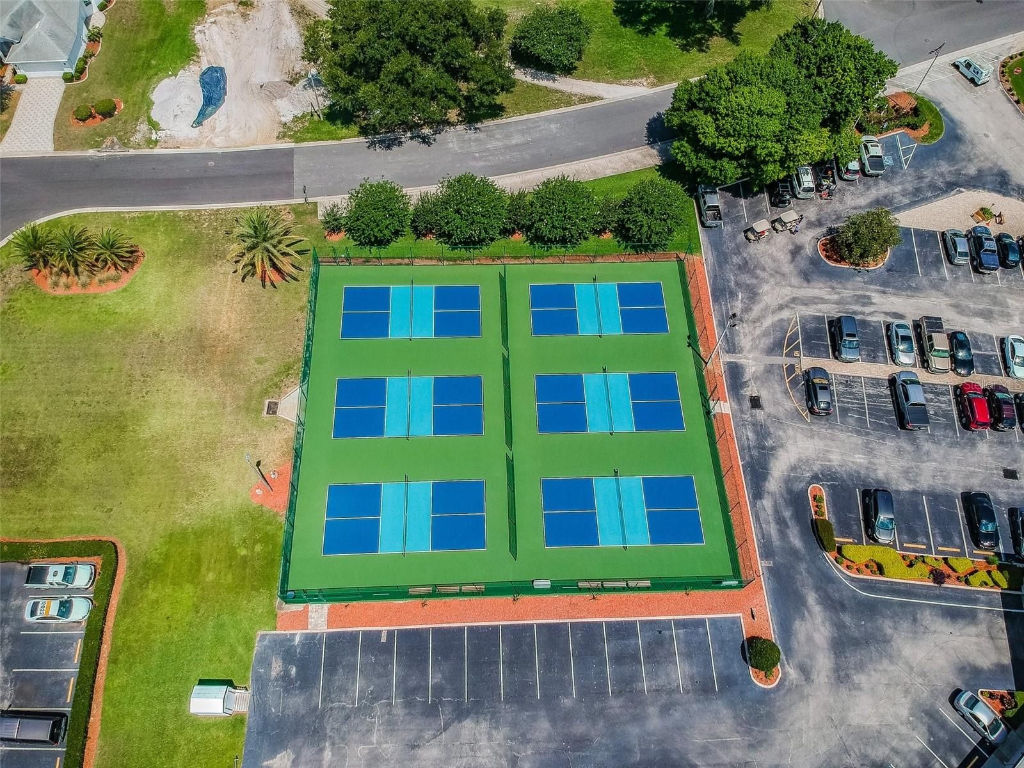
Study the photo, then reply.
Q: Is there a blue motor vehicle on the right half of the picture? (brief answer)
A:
Yes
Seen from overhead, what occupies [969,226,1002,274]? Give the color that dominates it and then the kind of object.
blue truck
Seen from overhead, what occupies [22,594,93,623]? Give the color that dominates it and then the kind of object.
white car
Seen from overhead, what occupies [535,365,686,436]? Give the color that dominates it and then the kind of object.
blue sports court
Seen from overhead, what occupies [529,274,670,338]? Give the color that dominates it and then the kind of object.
blue sports court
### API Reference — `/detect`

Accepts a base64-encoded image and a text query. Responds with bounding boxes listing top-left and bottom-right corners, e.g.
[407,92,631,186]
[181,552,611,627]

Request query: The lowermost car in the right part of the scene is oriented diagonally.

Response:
[950,686,1011,750]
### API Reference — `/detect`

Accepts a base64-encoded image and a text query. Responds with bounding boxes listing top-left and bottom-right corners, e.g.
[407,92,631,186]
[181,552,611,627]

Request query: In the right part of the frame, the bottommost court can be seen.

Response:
[541,469,705,550]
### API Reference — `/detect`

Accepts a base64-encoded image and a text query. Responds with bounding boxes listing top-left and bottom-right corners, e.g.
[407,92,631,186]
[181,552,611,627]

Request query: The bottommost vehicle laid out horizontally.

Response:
[0,713,67,747]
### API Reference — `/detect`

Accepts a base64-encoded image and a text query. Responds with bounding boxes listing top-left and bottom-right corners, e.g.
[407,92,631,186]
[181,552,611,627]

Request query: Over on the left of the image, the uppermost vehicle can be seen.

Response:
[20,560,98,590]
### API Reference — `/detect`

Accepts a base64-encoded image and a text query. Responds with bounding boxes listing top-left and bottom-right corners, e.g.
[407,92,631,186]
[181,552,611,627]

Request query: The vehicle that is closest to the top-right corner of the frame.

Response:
[951,55,997,86]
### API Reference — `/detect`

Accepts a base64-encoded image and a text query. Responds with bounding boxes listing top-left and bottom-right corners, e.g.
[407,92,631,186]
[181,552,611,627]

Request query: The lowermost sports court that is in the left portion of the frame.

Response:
[322,474,486,557]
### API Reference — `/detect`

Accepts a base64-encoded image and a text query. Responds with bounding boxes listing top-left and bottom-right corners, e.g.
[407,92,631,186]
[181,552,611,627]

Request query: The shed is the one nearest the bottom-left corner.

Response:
[184,689,255,725]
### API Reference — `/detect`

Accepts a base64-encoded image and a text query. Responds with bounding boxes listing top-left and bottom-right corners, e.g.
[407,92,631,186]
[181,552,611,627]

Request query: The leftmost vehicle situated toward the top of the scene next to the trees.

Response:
[698,182,725,224]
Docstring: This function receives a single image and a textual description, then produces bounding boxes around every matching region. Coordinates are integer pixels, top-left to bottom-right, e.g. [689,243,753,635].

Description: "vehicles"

[769,172,791,206]
[1014,393,1024,438]
[746,219,774,243]
[888,320,918,367]
[20,560,98,590]
[919,315,952,373]
[943,231,975,265]
[948,331,977,377]
[967,492,1003,550]
[792,158,816,197]
[22,594,93,623]
[868,489,901,543]
[895,371,932,429]
[834,314,863,363]
[950,686,1011,750]
[1012,506,1024,556]
[861,134,886,175]
[1004,334,1024,379]
[774,211,802,235]
[0,713,67,747]
[805,367,832,416]
[994,232,1022,266]
[958,383,992,431]
[984,385,1019,431]
[814,160,838,194]
[698,182,725,224]
[969,226,1002,274]
[951,55,997,86]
